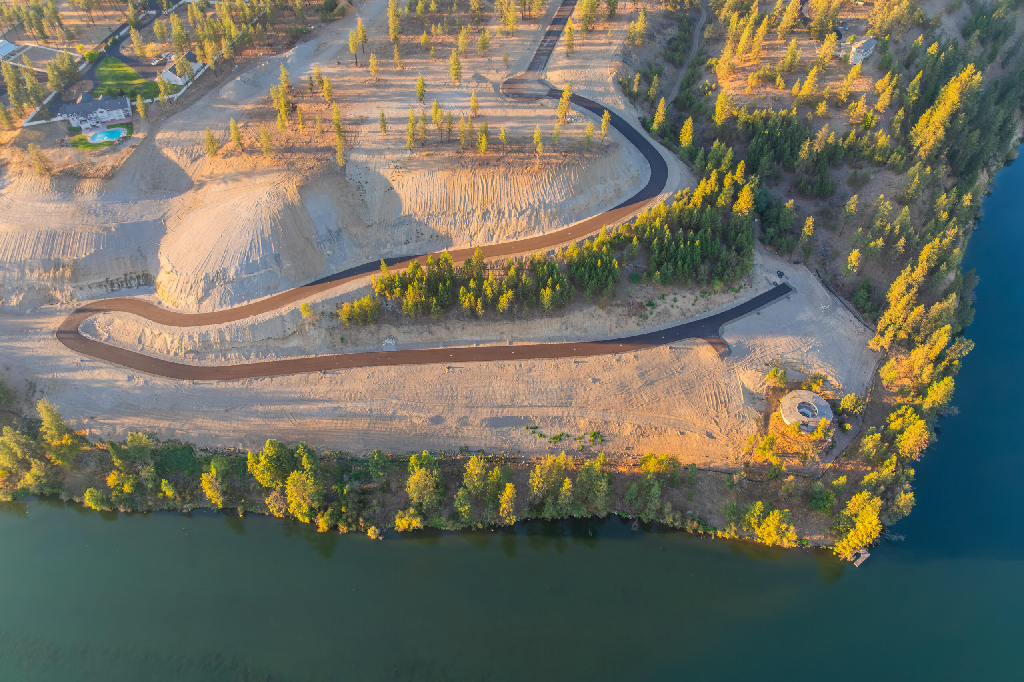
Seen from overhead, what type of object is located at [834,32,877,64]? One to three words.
house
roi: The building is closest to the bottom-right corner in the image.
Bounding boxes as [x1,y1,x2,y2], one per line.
[780,389,836,437]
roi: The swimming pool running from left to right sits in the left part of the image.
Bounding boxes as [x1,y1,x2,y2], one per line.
[81,126,128,144]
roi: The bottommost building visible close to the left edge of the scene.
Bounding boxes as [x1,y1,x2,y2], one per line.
[48,80,148,131]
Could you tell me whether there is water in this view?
Yes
